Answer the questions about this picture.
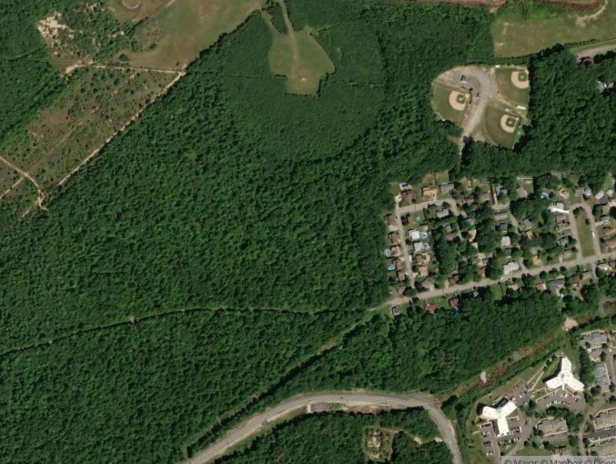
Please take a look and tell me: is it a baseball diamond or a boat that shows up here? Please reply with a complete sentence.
It is a baseball diamond that can be seen here.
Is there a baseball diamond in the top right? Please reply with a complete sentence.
Yes, the scene does show a baseball diamond in the top right.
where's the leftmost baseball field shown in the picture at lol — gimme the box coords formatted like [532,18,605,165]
[432,85,469,124]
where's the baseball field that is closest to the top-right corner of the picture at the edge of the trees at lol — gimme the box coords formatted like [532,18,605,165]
[496,68,530,106]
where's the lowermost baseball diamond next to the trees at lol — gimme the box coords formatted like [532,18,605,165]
[484,107,518,149]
